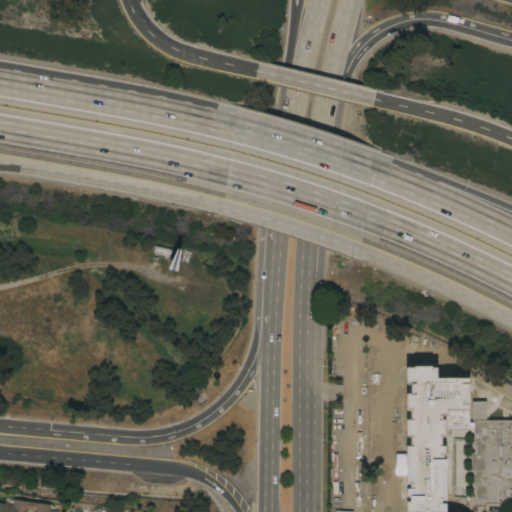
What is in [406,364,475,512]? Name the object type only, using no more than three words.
building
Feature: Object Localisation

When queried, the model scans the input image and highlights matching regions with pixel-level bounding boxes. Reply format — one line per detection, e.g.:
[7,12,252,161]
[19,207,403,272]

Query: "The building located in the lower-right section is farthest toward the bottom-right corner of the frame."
[473,421,512,508]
